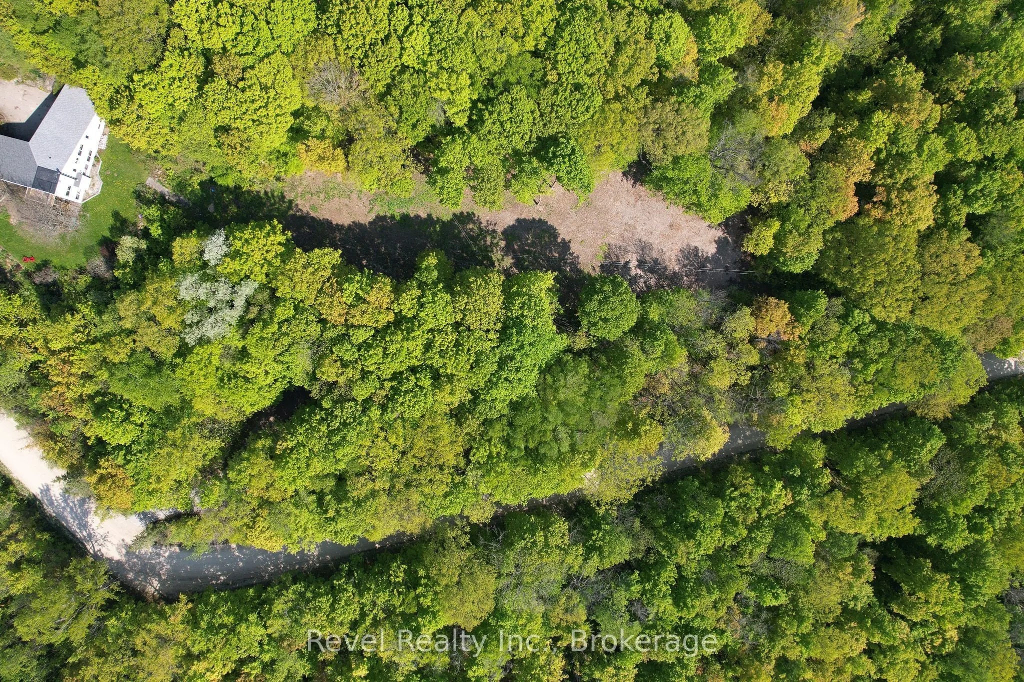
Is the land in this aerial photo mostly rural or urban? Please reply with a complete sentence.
From above, the setting appears rural.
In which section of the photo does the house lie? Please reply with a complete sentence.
The house is in the top left part of the image.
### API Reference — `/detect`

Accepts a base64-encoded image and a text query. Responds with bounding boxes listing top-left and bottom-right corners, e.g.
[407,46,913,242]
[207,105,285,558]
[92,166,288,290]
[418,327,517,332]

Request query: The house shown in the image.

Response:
[0,90,107,217]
